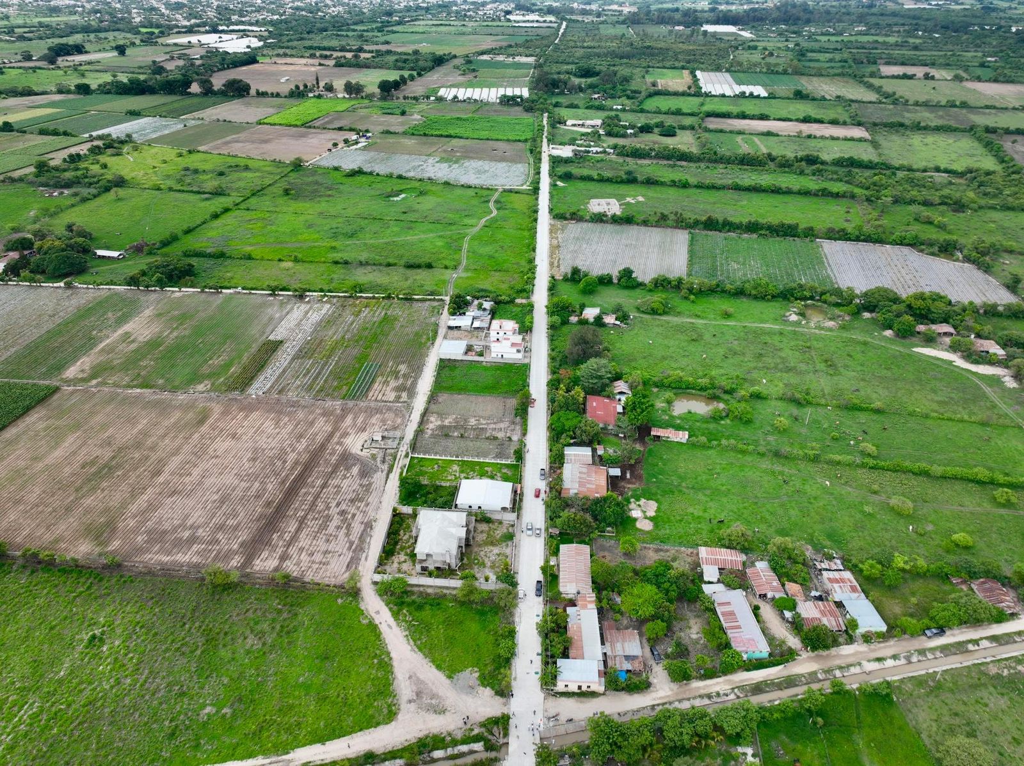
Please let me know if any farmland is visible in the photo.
Yes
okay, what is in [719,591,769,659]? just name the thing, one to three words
house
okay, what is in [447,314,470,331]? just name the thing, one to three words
house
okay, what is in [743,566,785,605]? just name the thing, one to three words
barn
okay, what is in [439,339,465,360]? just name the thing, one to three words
shed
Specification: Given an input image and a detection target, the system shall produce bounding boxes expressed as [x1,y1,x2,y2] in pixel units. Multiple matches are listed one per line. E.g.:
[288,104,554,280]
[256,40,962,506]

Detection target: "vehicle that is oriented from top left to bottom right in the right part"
[647,643,664,664]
